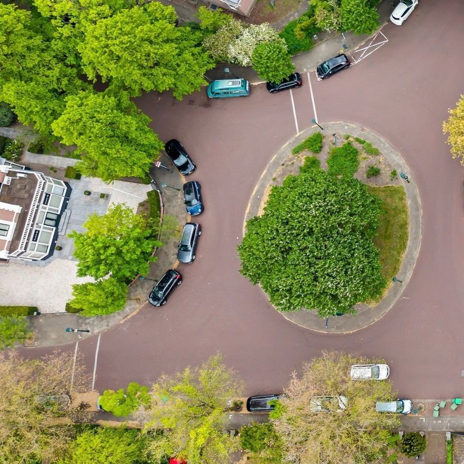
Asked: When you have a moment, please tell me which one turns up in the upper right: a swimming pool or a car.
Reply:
car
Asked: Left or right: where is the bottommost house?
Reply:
left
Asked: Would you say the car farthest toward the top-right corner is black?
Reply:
No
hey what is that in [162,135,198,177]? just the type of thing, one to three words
car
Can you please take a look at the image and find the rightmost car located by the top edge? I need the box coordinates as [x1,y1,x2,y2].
[389,0,419,28]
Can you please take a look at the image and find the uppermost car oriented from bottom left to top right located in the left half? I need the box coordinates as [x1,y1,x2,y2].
[146,267,184,309]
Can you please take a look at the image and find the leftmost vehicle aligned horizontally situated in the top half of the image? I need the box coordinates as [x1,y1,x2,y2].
[207,77,251,99]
